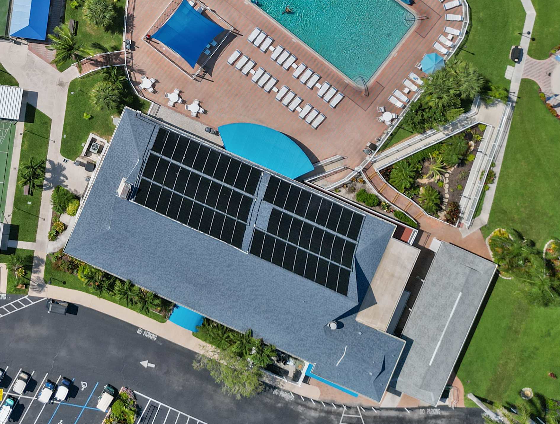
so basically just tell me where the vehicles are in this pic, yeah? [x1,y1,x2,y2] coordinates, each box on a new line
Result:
[13,369,30,394]
[54,375,72,401]
[98,383,114,408]
[38,377,55,405]
[0,395,16,424]
[45,297,68,314]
